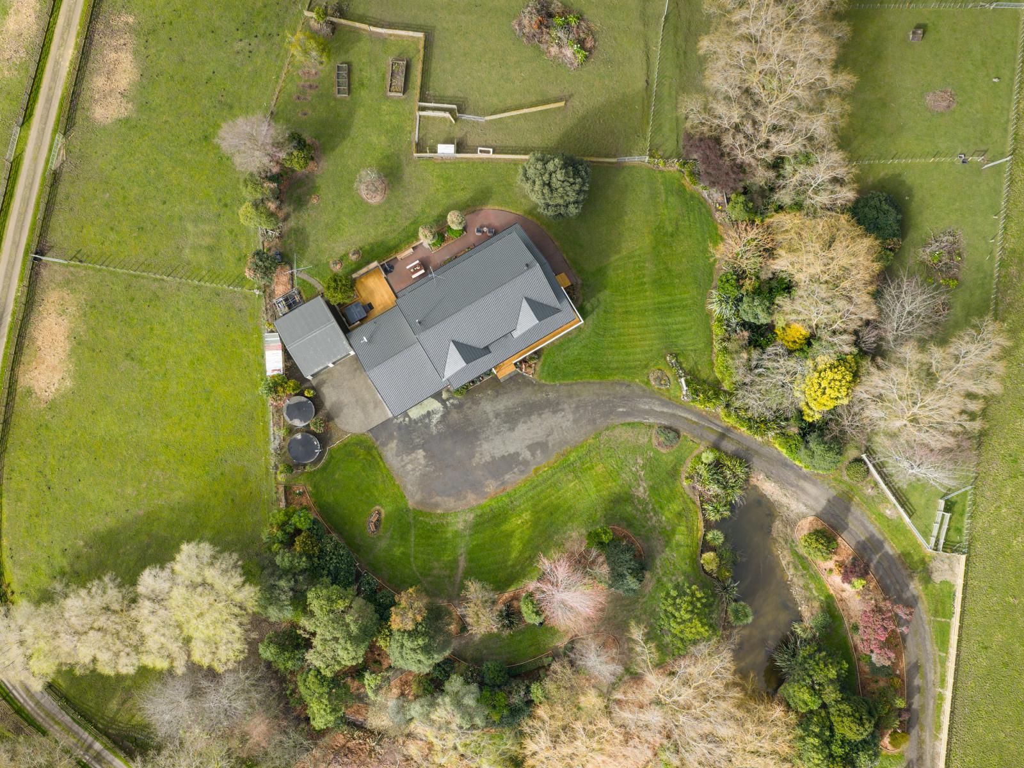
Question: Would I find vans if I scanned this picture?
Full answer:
No, the scene contains no van.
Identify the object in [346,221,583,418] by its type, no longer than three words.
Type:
house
